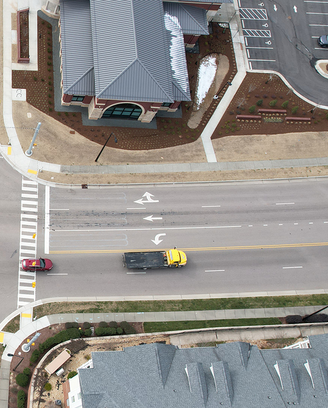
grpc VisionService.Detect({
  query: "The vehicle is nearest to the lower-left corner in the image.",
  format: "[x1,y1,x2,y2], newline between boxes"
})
[21,257,52,272]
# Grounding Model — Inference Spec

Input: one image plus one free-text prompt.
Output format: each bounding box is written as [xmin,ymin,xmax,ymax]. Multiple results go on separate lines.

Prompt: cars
[21,257,52,272]
[318,34,328,45]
